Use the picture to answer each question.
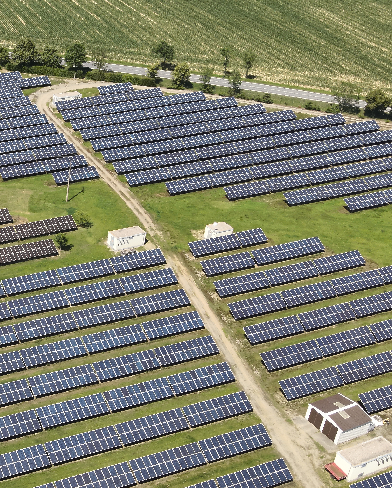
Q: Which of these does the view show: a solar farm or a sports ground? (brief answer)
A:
solar farm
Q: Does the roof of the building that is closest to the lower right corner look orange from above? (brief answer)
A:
No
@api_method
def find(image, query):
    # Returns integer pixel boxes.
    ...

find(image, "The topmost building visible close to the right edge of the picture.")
[305,391,376,445]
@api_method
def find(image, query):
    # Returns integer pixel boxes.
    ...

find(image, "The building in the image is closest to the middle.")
[203,221,234,239]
